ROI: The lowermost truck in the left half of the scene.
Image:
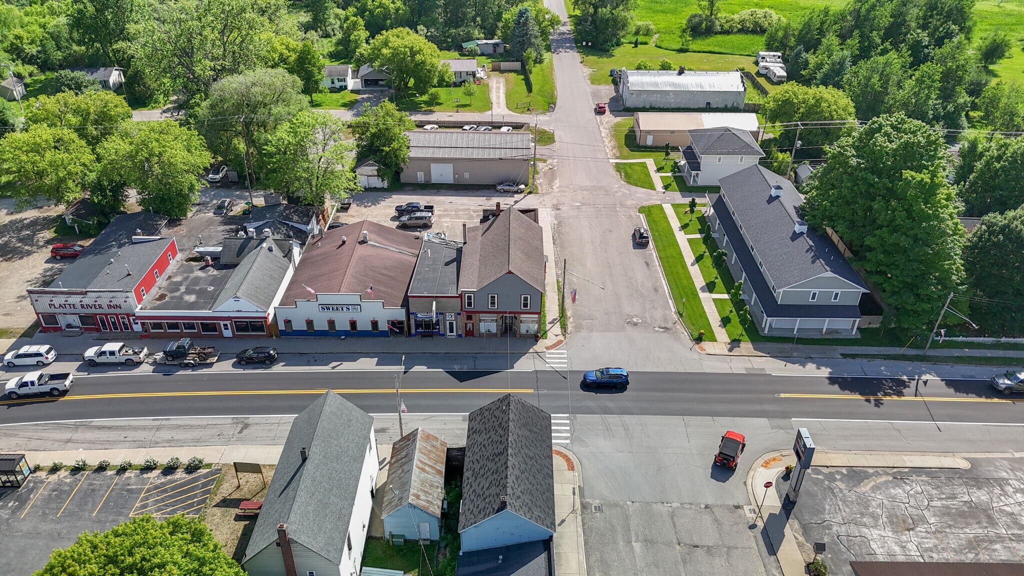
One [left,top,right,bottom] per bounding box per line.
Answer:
[0,369,74,399]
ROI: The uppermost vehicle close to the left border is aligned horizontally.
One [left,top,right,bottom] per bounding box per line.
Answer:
[49,240,90,259]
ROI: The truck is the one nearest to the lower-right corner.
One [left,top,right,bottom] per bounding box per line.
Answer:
[989,367,1024,391]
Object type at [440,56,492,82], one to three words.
house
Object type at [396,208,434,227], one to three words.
car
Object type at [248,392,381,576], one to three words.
building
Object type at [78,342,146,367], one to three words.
truck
